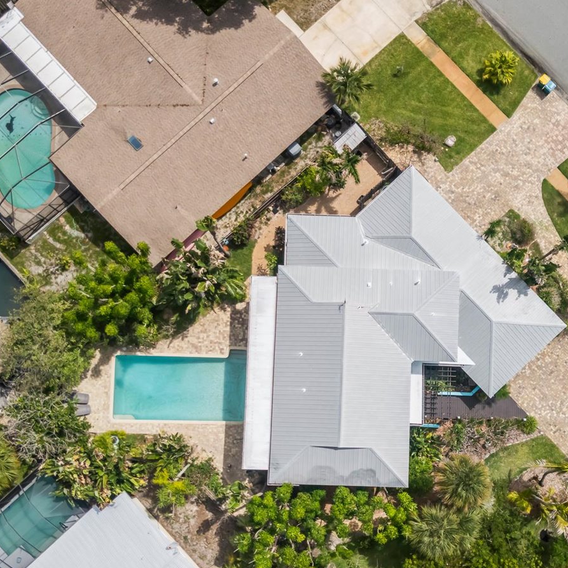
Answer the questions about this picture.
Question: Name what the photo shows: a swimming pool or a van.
swimming pool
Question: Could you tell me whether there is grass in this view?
Yes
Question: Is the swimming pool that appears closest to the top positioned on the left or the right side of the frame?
left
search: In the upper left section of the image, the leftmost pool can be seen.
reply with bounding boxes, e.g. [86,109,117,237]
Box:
[0,84,59,212]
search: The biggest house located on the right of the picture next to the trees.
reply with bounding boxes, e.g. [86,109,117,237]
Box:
[242,164,567,489]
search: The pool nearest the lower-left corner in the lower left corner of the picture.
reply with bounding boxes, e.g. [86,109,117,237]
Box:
[0,470,92,559]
